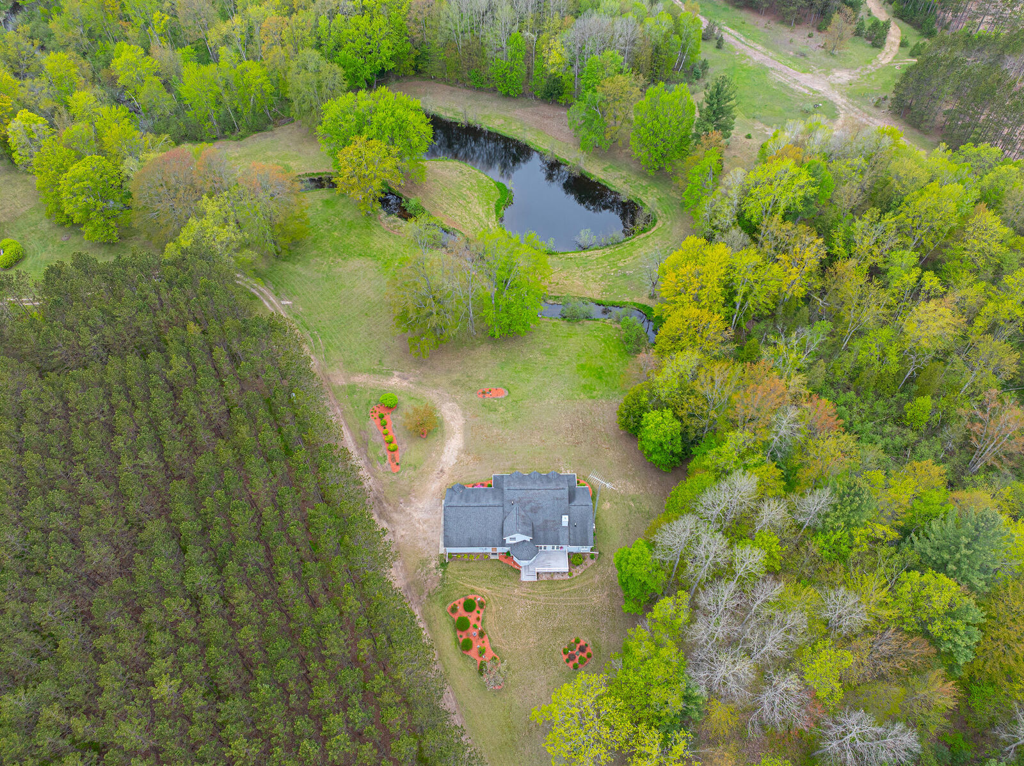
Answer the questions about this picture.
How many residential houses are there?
1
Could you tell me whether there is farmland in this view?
No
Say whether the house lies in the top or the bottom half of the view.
bottom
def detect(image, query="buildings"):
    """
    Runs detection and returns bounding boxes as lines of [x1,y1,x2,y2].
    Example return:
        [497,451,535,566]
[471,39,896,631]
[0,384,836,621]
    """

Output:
[443,469,598,581]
